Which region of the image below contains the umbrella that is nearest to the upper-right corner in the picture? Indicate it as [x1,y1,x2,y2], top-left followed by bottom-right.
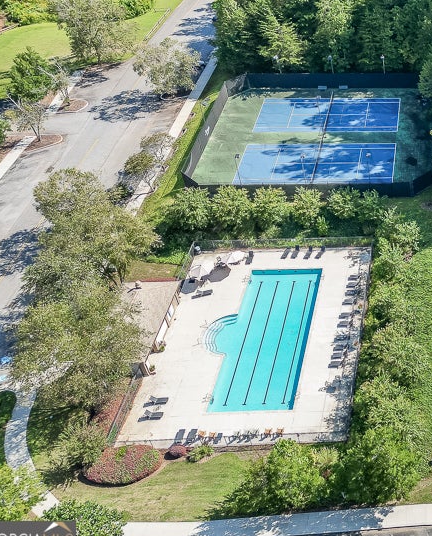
[222,249,248,272]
